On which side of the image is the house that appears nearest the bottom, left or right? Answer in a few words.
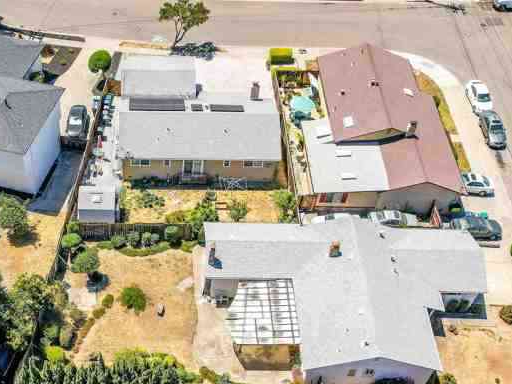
right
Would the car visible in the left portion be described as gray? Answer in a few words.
Yes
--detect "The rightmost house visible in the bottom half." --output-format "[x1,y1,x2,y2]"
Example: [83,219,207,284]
[204,213,488,384]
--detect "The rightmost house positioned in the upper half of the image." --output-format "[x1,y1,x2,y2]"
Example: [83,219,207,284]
[299,43,466,213]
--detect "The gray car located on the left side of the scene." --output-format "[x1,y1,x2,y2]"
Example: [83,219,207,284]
[62,100,90,140]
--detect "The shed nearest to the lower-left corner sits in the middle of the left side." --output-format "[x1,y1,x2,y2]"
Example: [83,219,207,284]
[77,186,118,224]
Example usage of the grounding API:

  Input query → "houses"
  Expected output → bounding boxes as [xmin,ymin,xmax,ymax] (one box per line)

[299,43,466,213]
[119,55,282,194]
[0,33,65,194]
[204,213,488,384]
